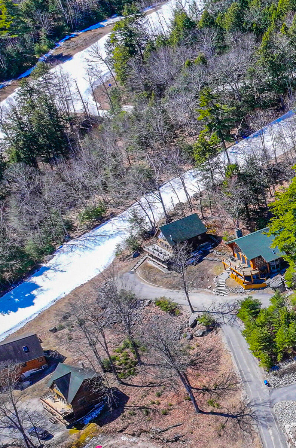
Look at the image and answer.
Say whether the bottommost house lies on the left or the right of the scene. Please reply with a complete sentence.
The bottommost house sits on the left side.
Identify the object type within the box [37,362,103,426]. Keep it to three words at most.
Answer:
house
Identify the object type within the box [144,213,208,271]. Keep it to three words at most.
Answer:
house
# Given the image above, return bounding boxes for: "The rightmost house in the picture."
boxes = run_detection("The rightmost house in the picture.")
[223,225,293,288]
